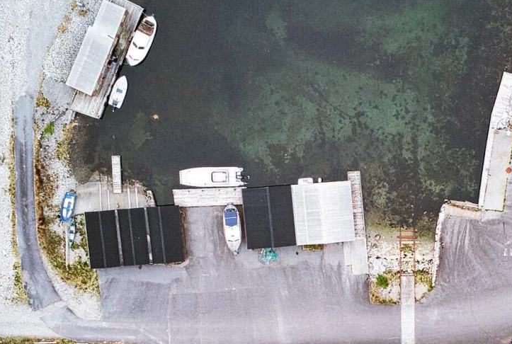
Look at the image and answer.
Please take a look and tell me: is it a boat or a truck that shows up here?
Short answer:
boat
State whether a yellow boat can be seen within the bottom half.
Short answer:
No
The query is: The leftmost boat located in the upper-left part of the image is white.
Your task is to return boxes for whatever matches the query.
[109,75,127,112]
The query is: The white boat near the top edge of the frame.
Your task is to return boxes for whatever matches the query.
[130,12,158,64]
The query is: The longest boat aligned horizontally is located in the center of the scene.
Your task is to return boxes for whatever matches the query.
[178,166,243,186]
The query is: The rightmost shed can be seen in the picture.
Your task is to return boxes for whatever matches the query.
[291,180,354,245]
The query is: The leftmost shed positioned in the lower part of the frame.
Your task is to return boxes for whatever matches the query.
[84,205,189,267]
